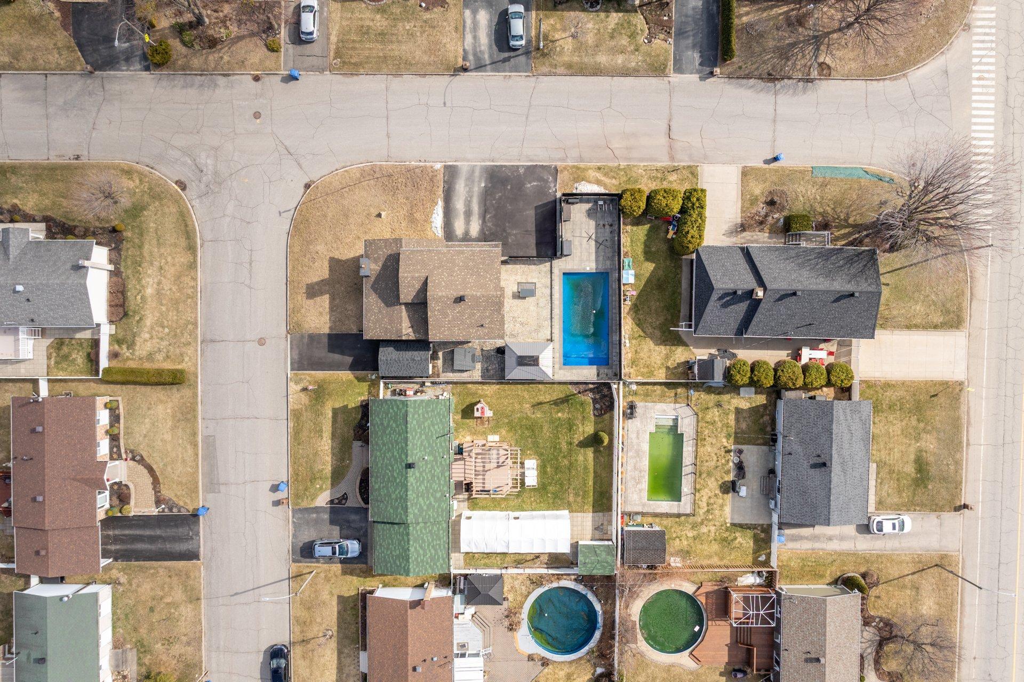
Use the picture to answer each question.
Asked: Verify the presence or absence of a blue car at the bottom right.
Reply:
No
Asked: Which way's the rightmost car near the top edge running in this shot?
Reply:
up and down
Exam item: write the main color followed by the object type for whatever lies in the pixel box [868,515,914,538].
white car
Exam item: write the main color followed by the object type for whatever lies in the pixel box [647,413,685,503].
green swimming pool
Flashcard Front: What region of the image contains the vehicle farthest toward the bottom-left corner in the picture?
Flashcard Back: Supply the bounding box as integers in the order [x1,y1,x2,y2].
[267,645,292,682]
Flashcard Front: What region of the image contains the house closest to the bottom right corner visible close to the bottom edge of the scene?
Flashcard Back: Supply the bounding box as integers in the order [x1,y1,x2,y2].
[771,584,861,682]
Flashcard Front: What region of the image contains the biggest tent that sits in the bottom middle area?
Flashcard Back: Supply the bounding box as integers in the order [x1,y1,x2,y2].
[461,506,570,551]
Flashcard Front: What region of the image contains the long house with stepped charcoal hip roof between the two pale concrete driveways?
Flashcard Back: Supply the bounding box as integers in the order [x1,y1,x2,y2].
[692,231,883,339]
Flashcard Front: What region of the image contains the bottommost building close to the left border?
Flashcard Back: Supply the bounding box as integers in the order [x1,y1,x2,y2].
[13,579,138,682]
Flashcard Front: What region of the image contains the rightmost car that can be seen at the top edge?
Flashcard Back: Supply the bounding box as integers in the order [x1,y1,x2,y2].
[505,3,526,50]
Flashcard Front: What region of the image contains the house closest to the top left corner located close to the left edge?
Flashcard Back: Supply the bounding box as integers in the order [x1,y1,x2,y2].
[0,226,113,326]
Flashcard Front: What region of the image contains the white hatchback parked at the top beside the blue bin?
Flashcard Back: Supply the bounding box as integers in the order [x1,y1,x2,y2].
[298,0,320,42]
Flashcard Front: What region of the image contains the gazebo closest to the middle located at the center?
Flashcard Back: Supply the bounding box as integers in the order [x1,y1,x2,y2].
[504,341,553,380]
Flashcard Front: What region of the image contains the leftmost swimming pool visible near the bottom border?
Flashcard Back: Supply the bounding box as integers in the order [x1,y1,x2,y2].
[514,580,604,663]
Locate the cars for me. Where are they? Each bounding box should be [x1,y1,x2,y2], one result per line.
[267,645,292,682]
[298,0,320,42]
[868,515,914,538]
[505,3,526,50]
[313,537,361,561]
